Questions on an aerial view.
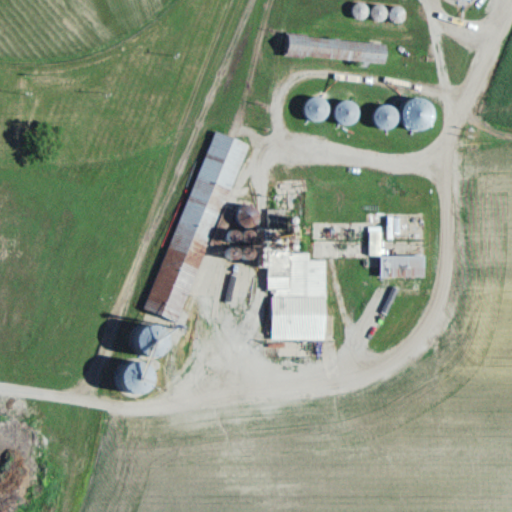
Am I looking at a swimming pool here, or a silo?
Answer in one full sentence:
Looking from above, you can make out a silo.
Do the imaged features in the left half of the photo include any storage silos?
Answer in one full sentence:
Yes, in the left half of the photo there is a storage silo.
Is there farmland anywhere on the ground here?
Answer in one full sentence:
Yes, farmland can be seen from above here.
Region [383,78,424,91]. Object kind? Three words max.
vehicle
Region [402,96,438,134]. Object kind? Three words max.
silo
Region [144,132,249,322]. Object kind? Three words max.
shed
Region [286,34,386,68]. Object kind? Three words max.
barn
